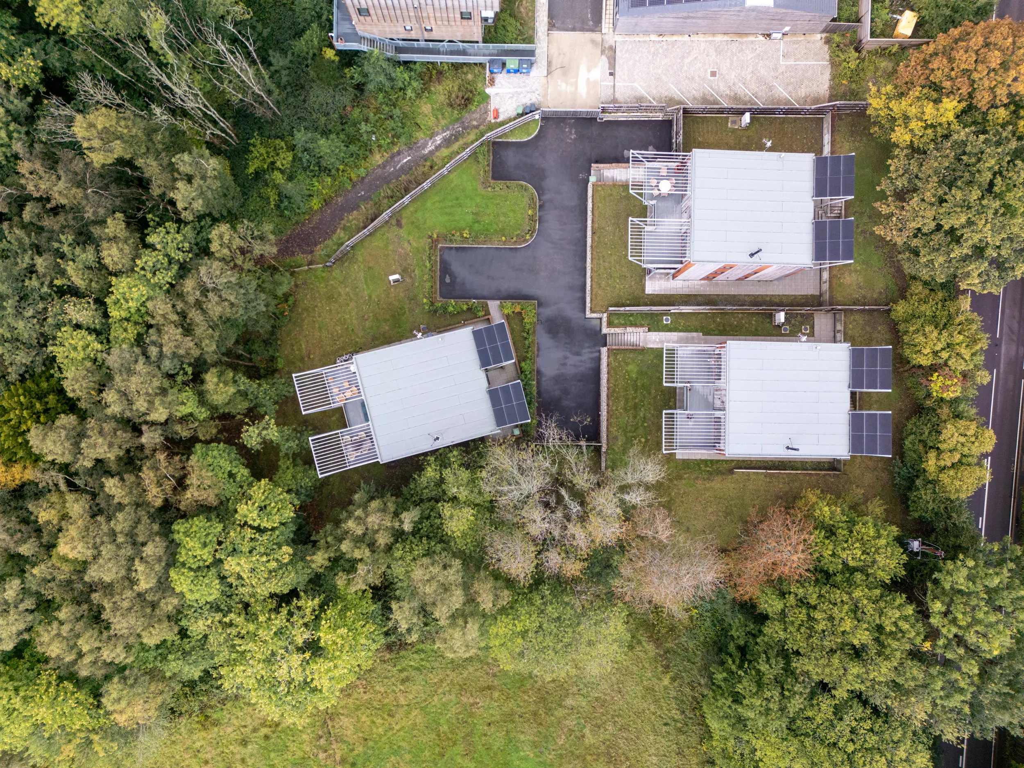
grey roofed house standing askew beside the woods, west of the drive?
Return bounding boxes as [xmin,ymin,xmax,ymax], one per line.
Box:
[293,319,531,475]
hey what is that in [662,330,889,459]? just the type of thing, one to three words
house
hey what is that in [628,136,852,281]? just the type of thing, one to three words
house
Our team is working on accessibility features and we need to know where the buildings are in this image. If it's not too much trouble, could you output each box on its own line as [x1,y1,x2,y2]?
[628,136,852,281]
[293,319,531,475]
[348,0,502,48]
[611,0,839,36]
[662,330,889,459]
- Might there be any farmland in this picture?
No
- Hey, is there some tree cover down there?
Yes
